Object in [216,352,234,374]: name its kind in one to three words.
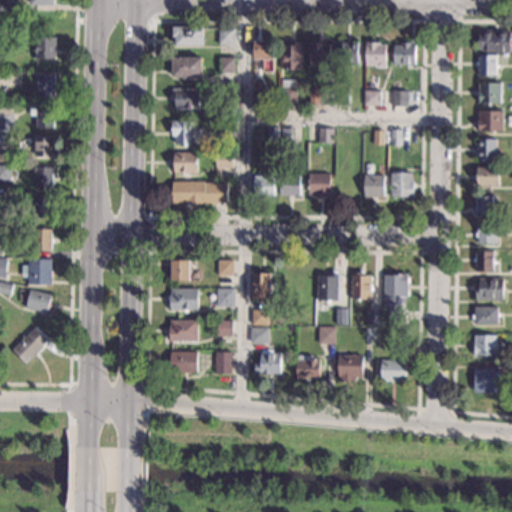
building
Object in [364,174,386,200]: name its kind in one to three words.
house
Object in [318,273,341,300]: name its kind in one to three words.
house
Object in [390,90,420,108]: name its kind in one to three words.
building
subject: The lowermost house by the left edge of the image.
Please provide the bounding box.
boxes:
[13,327,52,364]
